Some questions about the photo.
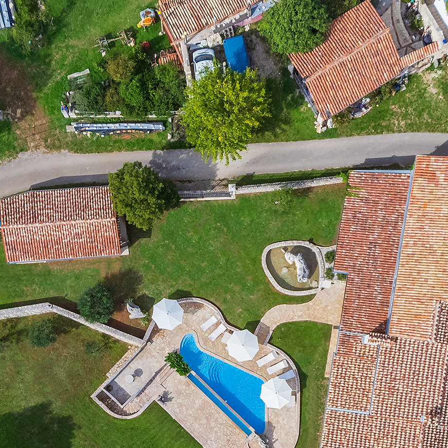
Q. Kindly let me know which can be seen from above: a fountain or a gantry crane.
fountain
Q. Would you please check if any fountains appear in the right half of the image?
Yes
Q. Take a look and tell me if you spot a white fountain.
Yes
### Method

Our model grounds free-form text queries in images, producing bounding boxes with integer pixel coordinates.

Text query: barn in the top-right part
[286,0,440,127]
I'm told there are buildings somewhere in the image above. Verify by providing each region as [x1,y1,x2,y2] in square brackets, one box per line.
[158,0,258,65]
[286,0,440,127]
[319,156,448,448]
[0,184,122,265]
